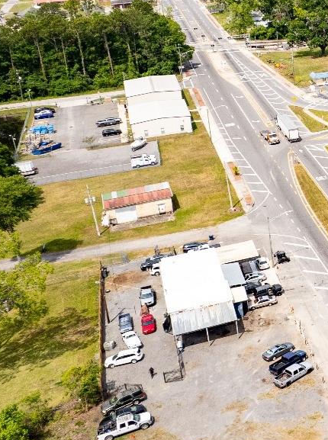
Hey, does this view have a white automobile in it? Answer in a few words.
Yes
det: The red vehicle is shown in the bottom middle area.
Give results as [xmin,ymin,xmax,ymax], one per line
[142,314,156,335]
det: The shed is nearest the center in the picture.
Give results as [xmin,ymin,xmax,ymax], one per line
[104,190,174,223]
